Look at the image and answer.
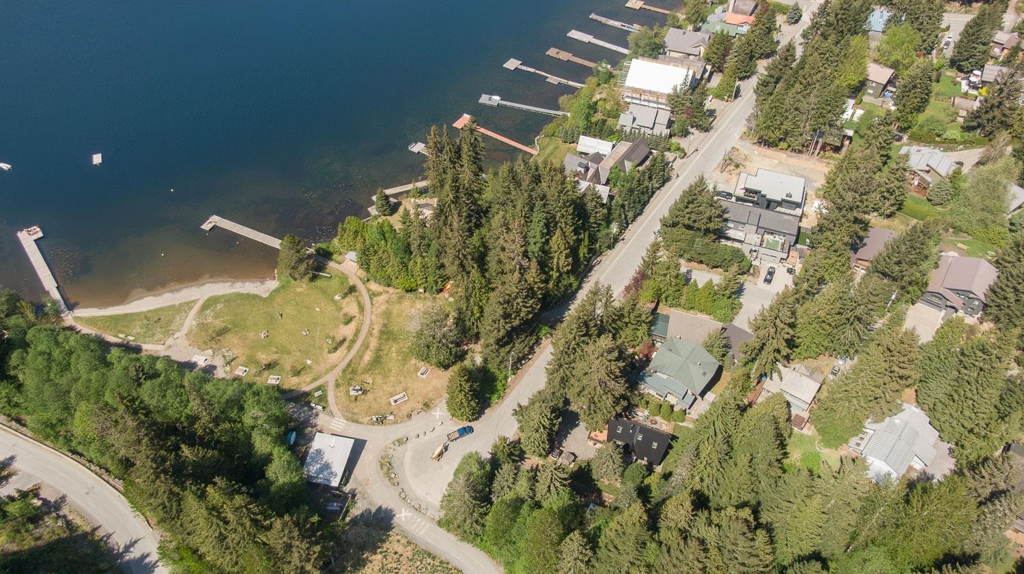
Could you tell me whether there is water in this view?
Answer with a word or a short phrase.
Yes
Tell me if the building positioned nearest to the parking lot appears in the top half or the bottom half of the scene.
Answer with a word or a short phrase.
bottom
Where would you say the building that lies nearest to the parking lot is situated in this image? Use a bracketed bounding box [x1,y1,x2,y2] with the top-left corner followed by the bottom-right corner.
[305,433,355,490]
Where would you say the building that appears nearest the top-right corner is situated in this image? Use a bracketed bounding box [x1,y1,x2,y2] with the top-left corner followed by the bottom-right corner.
[986,31,1019,64]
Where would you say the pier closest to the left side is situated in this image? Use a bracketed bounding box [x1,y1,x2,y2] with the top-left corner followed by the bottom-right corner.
[18,226,72,311]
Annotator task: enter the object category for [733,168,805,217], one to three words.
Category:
house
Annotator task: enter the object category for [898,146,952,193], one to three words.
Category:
house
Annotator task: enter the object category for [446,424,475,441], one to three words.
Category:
vehicle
